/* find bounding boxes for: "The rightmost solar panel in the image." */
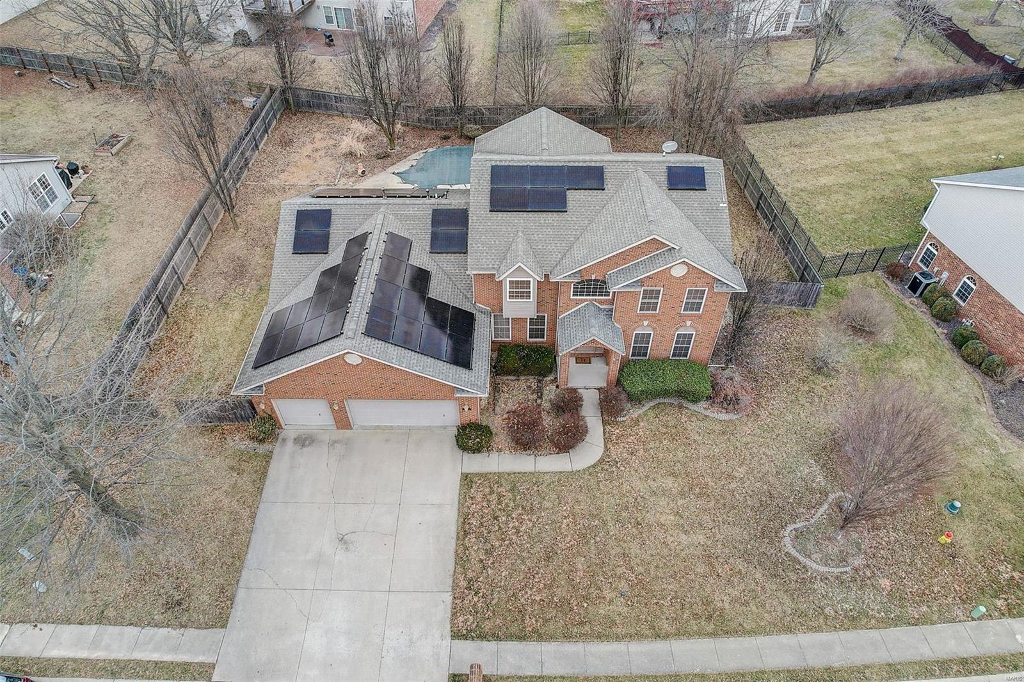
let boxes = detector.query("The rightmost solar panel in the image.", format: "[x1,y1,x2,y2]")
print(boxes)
[667,167,705,192]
